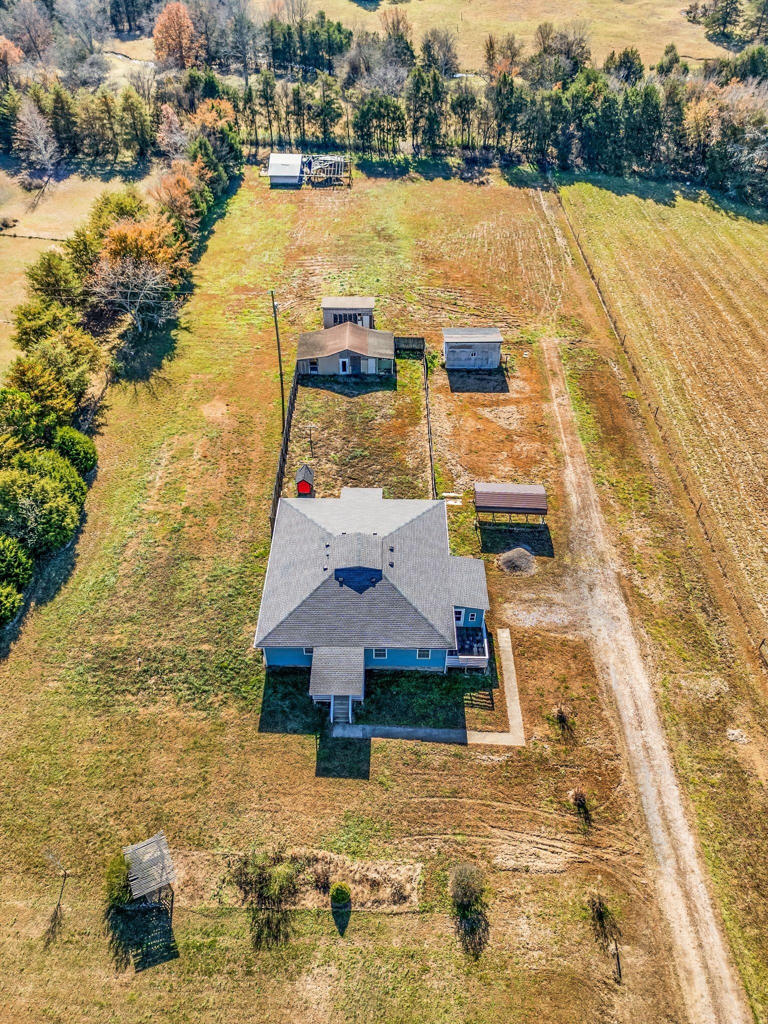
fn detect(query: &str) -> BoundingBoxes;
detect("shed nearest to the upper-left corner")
[267,156,304,186]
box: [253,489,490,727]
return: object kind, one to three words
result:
house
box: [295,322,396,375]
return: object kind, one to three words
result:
barn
